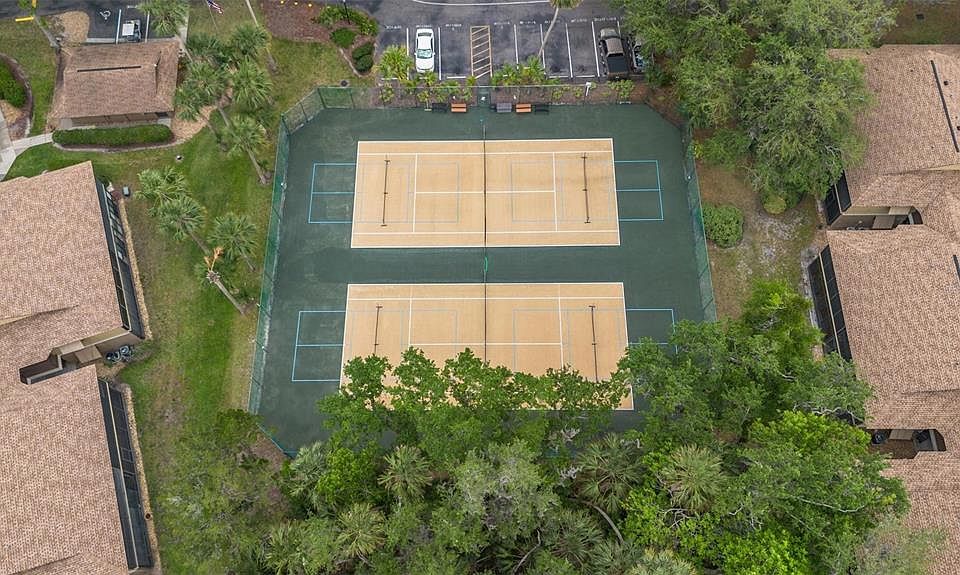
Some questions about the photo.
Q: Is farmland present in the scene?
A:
No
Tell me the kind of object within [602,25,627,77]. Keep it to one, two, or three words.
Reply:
vehicle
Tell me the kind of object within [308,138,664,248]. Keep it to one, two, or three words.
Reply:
tennis court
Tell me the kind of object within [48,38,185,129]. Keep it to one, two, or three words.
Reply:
shed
